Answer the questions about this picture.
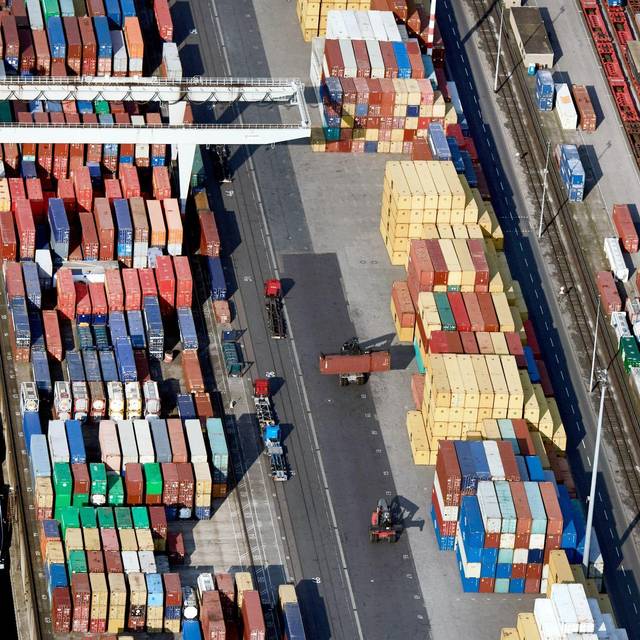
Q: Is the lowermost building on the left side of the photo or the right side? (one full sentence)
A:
You can find the lowermost building on the right side of the picture.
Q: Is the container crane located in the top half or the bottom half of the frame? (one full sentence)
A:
You can find the container crane in the top half.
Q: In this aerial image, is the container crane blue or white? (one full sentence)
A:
The color of the container crane is white.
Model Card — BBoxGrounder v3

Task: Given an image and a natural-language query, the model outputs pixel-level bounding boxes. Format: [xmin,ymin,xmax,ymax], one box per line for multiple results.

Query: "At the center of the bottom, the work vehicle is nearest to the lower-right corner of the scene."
[369,498,398,541]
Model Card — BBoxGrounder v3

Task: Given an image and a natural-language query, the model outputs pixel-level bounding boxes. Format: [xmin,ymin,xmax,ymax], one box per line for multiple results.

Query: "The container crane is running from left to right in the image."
[0,72,311,222]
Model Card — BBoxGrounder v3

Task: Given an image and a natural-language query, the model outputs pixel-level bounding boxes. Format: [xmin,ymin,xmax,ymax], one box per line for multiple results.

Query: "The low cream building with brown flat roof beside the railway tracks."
[509,6,554,68]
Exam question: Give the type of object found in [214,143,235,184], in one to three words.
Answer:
truck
